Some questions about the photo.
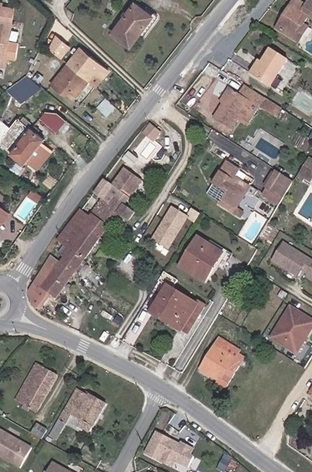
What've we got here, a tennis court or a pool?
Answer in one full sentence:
This aerial view contains a pool.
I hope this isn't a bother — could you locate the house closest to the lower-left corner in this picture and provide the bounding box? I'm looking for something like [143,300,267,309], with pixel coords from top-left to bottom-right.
[0,426,32,468]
